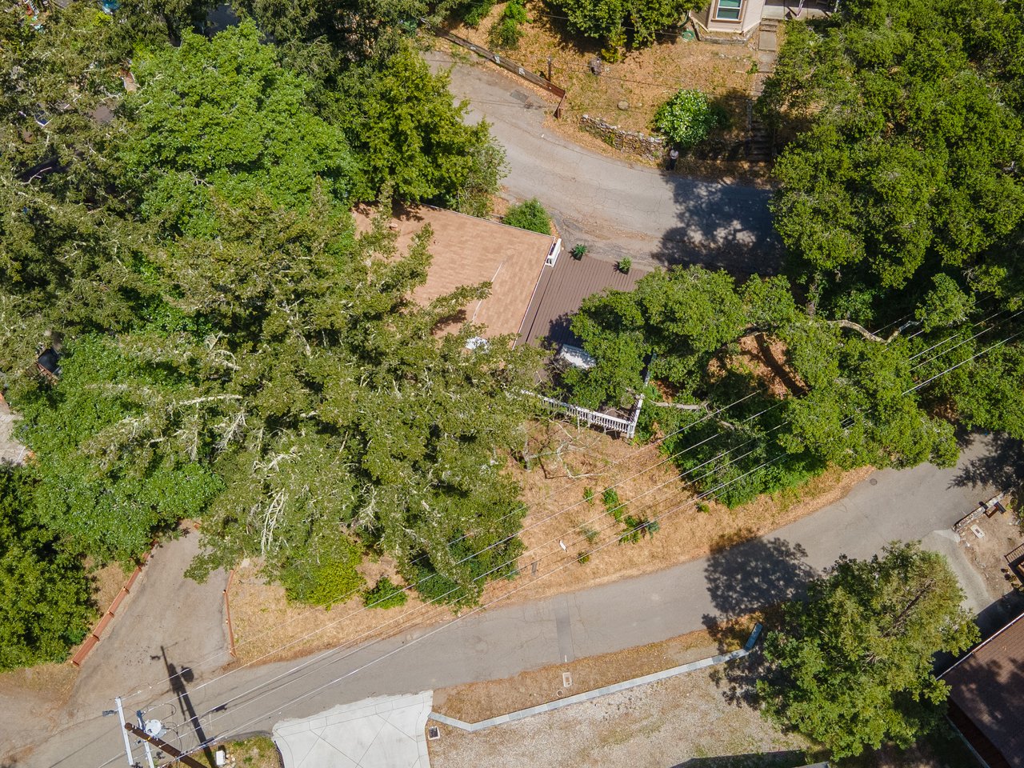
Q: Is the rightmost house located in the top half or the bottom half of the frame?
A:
bottom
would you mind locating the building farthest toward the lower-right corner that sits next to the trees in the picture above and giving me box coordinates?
[917,610,1024,768]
